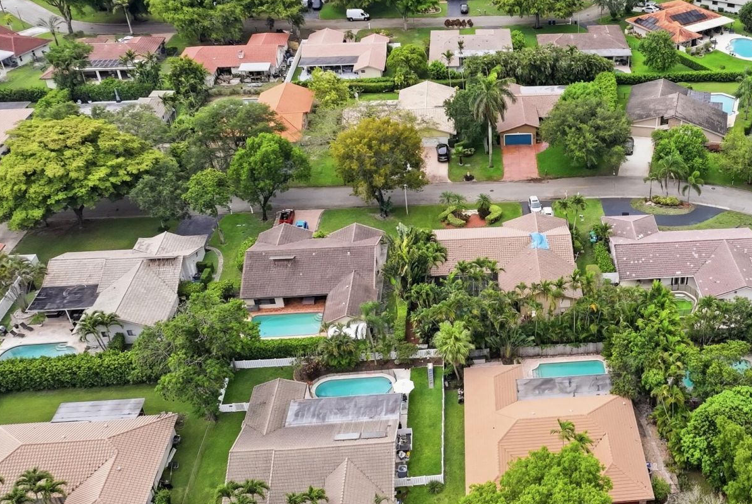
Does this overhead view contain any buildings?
Yes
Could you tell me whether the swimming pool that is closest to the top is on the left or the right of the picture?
right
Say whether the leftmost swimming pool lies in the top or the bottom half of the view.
bottom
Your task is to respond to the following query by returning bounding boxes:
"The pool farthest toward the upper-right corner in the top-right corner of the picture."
[727,35,752,58]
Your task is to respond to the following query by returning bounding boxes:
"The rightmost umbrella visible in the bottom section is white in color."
[391,371,414,394]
